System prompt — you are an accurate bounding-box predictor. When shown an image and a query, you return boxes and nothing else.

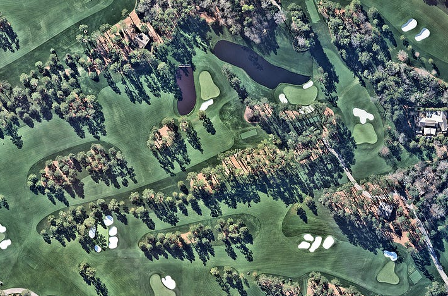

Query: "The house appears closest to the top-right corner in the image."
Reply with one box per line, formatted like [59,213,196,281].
[416,110,448,135]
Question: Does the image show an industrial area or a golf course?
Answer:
golf course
